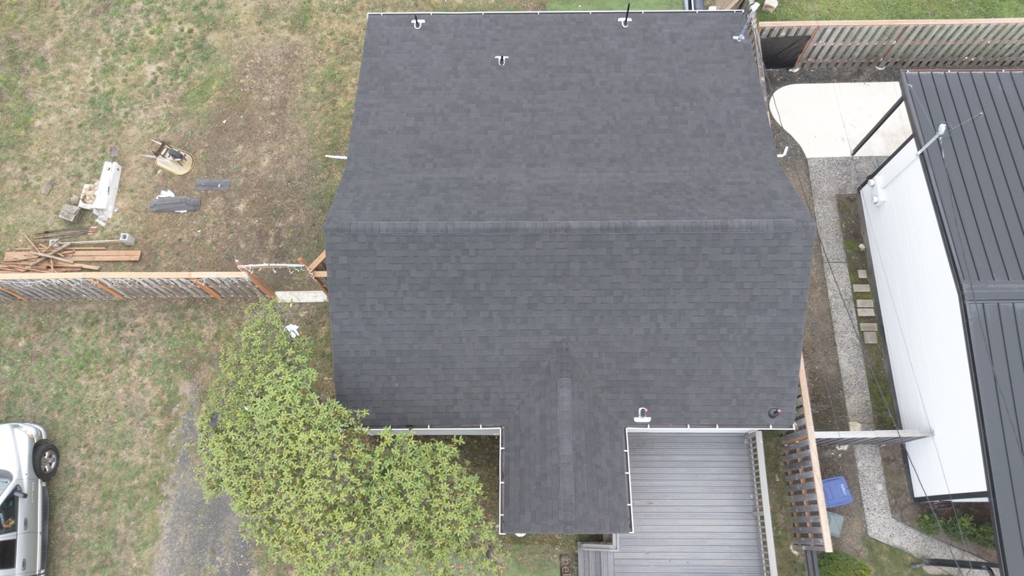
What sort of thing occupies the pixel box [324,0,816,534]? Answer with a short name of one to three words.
house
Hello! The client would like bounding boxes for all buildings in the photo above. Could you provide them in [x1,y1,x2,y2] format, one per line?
[850,66,1024,576]
[324,0,816,534]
